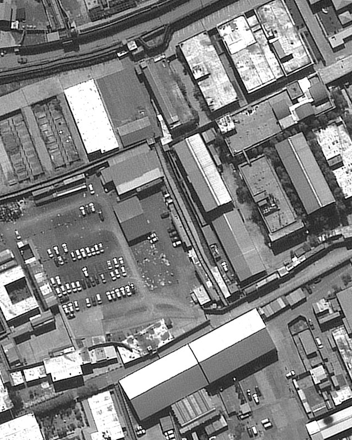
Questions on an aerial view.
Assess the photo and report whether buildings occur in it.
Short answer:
Yes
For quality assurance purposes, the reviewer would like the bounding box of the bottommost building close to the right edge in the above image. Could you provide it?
[305,406,352,440]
